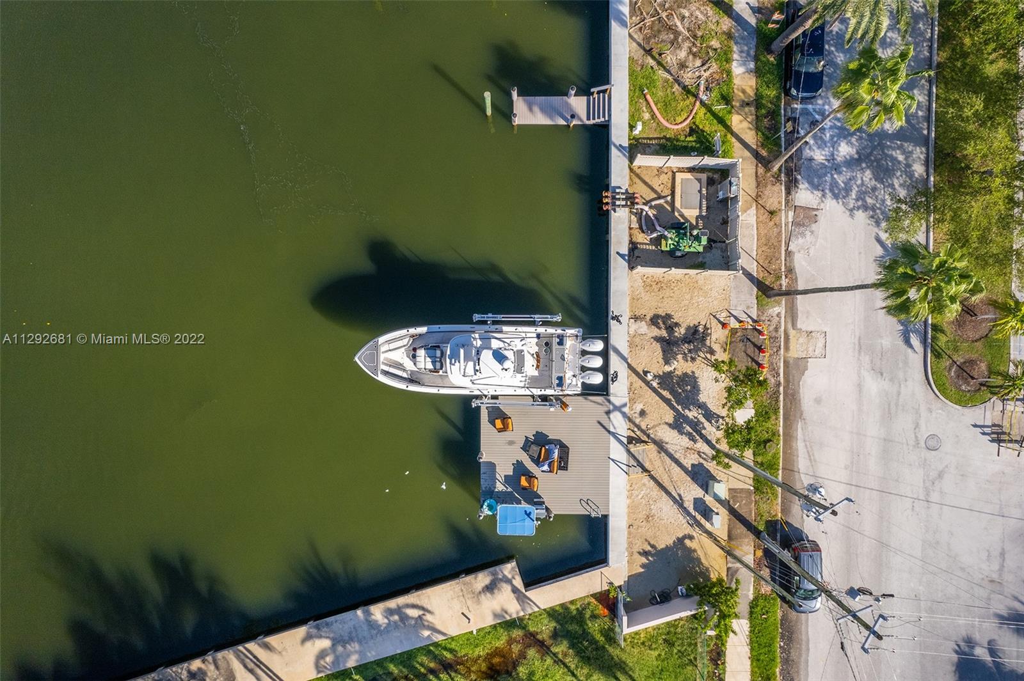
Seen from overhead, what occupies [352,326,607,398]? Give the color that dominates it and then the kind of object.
white boat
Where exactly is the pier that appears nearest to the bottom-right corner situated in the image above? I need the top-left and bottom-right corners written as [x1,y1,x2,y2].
[477,394,608,523]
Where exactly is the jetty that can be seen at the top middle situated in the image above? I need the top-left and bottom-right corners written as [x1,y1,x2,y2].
[512,84,612,131]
